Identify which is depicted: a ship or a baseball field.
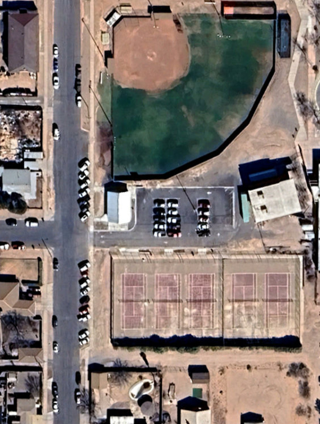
baseball field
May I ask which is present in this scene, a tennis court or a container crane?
tennis court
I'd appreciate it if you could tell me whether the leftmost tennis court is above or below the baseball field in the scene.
below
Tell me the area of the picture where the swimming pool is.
bottom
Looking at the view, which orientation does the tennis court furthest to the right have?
from top to bottom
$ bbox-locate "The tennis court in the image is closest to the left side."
[122,273,147,329]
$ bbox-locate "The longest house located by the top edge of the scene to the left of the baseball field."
[7,6,38,73]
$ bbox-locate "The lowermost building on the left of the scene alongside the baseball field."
[107,189,132,225]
